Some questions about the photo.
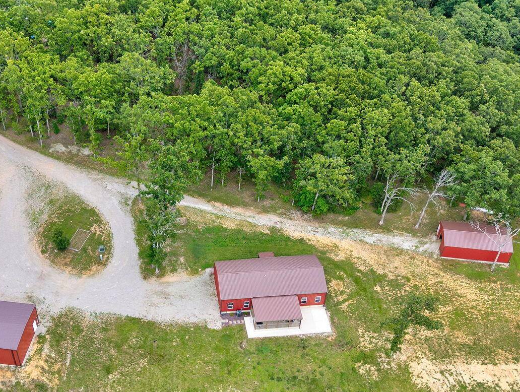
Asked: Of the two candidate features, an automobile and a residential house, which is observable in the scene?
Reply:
residential house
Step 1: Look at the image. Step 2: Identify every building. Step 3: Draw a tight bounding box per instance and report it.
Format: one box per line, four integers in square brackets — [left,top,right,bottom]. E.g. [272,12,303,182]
[215,252,328,331]
[0,300,40,366]
[438,222,514,264]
